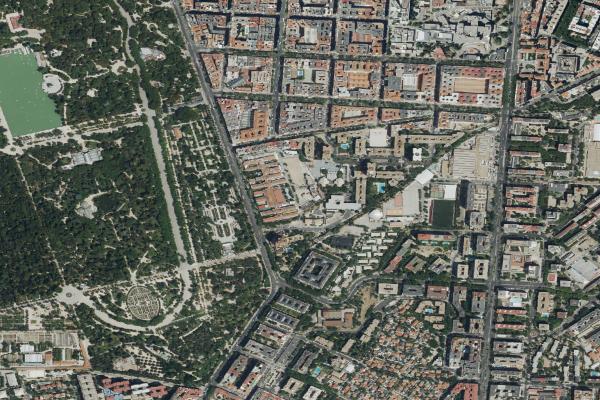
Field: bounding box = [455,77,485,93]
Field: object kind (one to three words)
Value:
building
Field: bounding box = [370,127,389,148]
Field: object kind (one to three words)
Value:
building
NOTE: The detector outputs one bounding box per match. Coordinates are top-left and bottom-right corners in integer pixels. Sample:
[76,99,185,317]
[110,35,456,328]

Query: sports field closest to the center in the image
[285,154,307,200]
